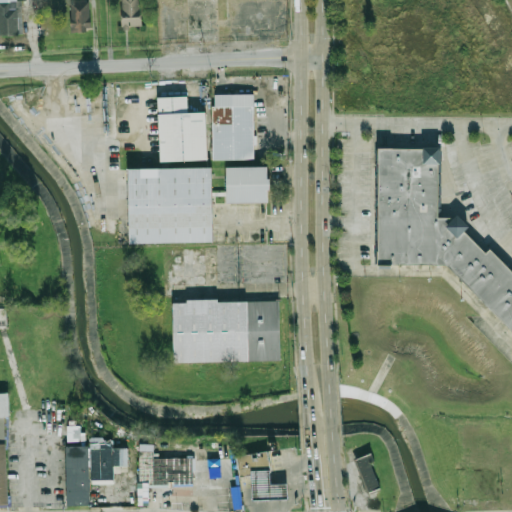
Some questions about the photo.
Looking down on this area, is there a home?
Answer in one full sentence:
Yes, the frame does contain a home.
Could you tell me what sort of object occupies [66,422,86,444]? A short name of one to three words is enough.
shed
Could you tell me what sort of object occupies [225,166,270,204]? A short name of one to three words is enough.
building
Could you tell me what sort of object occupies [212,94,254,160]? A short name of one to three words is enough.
building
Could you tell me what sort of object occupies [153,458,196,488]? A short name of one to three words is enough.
shed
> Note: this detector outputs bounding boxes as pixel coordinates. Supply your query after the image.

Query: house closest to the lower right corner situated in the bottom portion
[356,455,382,498]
